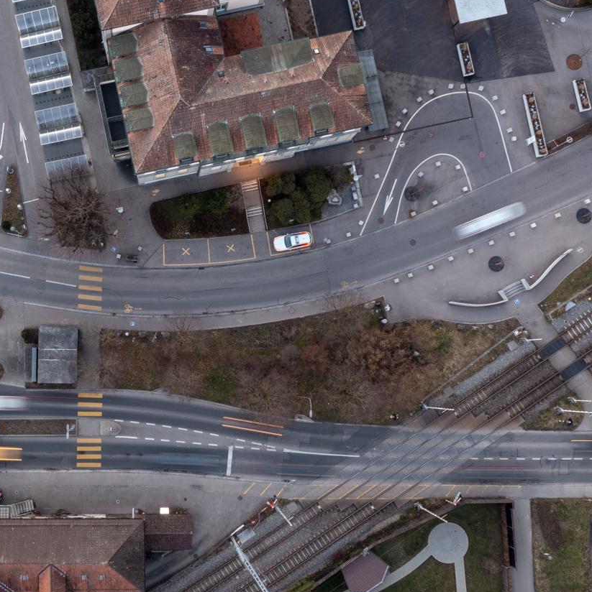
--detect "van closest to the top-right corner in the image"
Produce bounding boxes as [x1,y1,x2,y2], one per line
[466,207,509,235]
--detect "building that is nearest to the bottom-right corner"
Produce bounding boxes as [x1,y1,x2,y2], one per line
[340,548,391,592]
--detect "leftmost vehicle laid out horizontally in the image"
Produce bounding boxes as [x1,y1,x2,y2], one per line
[272,231,311,249]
